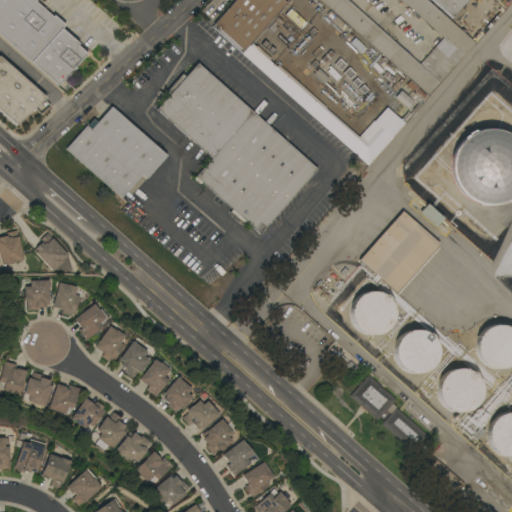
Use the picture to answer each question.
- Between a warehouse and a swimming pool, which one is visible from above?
warehouse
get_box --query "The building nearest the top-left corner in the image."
[0,0,66,63]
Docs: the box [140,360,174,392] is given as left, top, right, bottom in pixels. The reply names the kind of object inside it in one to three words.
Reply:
house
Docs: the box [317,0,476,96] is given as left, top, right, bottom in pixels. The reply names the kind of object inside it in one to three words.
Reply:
building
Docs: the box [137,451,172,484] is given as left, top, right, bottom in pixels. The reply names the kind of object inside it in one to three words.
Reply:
house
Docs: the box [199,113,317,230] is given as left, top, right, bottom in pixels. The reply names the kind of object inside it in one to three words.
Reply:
warehouse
